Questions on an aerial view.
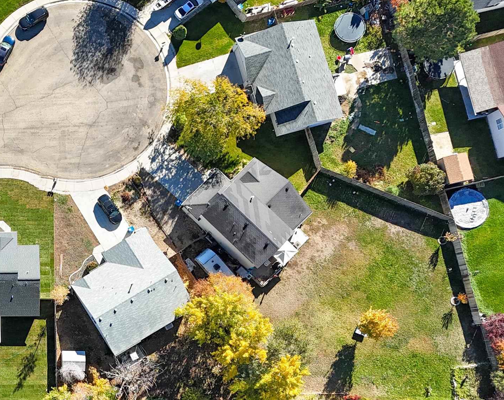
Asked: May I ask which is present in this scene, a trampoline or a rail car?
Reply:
trampoline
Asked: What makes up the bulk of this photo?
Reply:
paved ground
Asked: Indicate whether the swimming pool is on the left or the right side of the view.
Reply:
right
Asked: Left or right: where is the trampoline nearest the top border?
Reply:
right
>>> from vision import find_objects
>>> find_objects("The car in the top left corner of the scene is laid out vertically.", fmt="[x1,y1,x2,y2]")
[0,35,16,67]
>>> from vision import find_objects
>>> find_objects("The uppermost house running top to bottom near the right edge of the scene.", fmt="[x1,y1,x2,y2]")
[452,44,504,168]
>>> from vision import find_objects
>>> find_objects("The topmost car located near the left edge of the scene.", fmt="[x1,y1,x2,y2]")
[17,4,51,32]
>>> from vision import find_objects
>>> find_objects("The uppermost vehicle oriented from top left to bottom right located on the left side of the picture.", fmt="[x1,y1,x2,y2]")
[96,192,124,226]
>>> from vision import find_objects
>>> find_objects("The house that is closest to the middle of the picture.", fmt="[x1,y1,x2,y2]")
[179,157,310,266]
